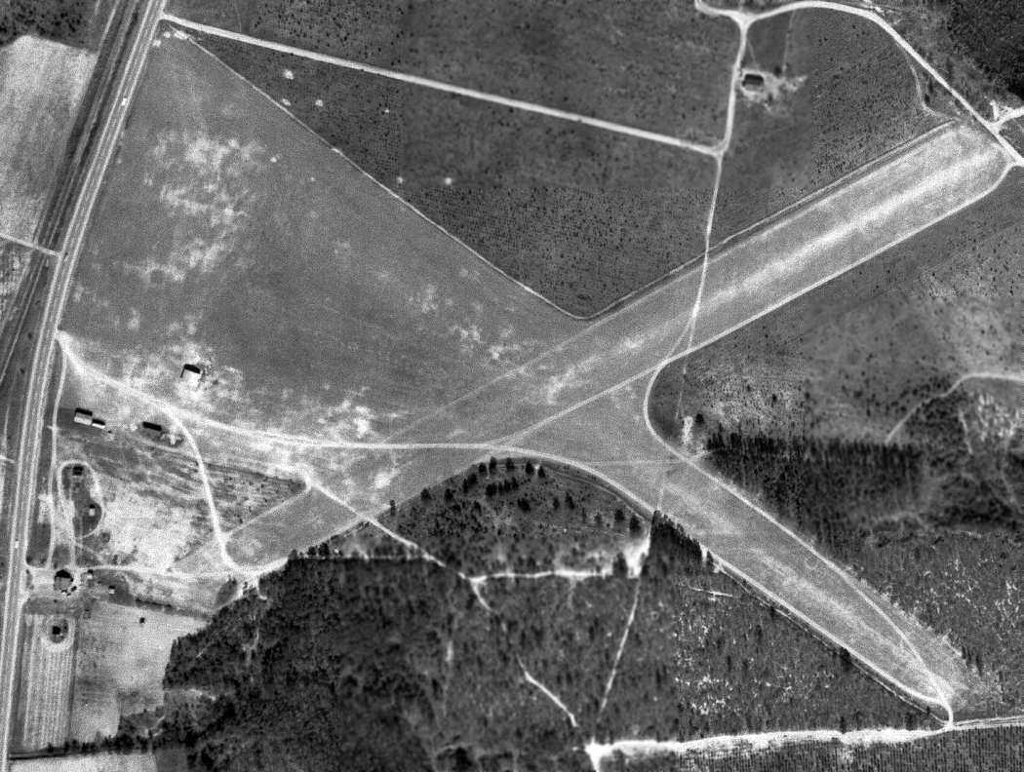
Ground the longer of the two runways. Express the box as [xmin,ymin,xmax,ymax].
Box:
[226,127,1012,568]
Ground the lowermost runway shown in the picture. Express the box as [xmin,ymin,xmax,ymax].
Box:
[553,429,951,698]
